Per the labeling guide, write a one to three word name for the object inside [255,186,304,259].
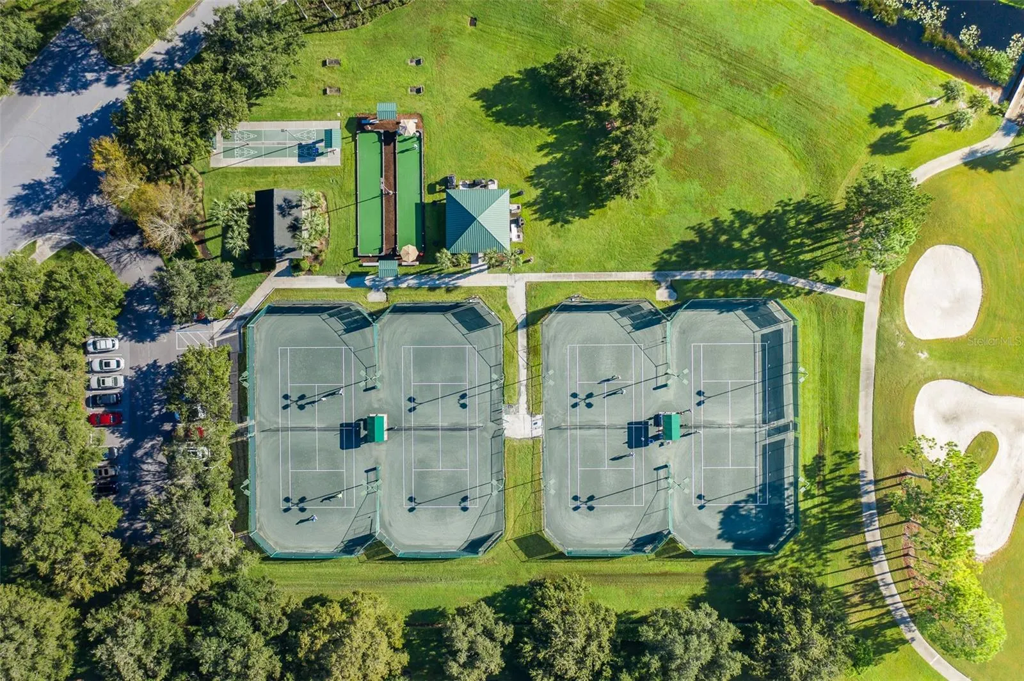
building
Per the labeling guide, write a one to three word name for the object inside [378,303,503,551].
tennis court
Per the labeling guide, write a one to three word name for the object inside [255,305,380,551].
tennis court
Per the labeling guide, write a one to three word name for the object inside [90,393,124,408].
car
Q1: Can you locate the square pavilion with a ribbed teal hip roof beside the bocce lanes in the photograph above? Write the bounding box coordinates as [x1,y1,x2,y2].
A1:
[446,188,511,253]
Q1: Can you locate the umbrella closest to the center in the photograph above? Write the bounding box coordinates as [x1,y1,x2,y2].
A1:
[401,245,419,263]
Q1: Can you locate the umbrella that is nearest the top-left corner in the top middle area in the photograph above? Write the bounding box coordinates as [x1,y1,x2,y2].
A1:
[398,118,418,138]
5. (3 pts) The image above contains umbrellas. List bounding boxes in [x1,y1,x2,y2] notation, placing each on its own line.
[401,245,419,263]
[398,118,418,138]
